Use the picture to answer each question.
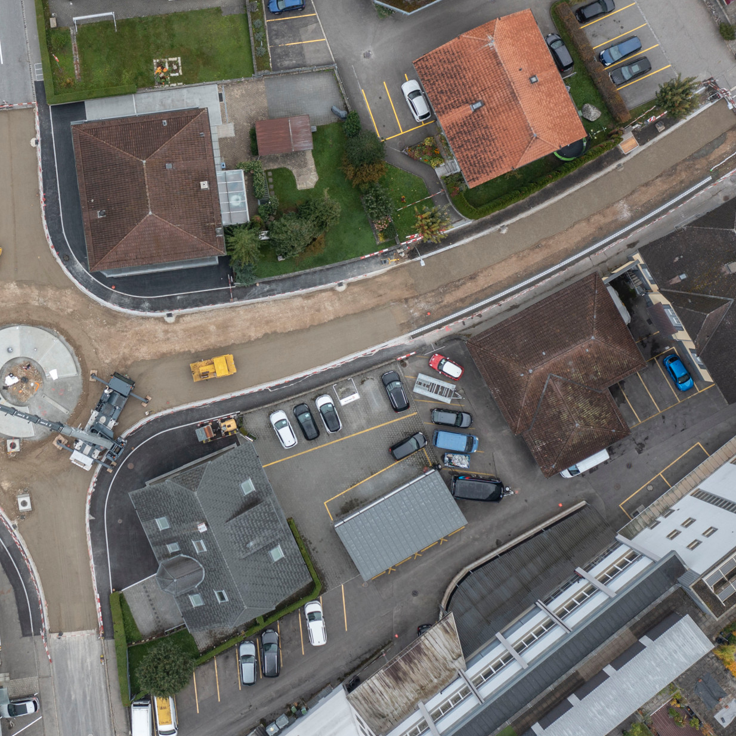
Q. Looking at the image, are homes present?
Yes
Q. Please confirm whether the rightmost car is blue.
Yes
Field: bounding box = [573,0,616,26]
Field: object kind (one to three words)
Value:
car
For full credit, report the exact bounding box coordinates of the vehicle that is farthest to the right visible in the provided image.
[663,352,691,392]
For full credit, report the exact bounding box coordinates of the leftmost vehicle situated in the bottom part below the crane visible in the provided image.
[0,694,41,718]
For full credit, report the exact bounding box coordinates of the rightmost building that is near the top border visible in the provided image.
[413,8,588,188]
